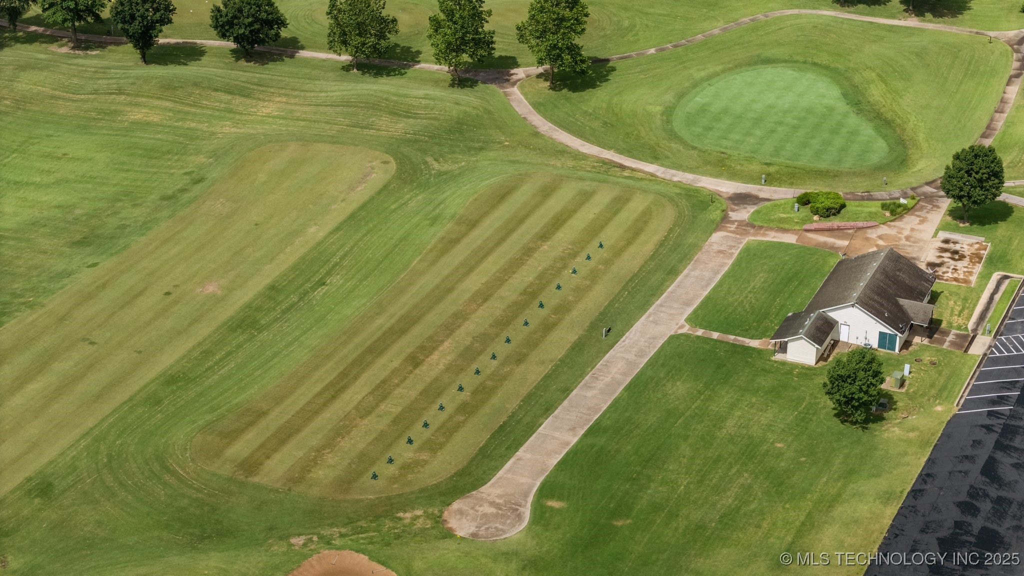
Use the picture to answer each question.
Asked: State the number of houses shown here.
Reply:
one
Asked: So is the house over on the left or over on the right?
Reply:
right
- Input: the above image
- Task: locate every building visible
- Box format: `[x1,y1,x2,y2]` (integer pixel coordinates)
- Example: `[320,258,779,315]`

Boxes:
[770,248,940,366]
